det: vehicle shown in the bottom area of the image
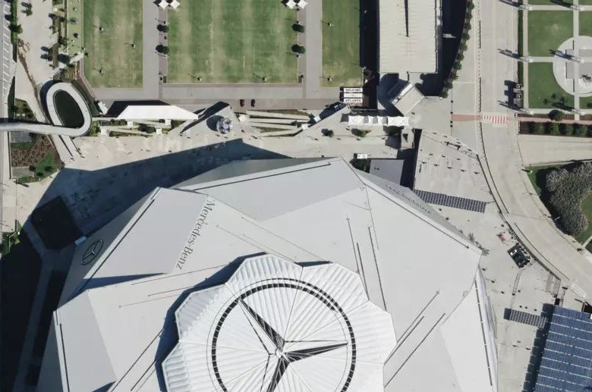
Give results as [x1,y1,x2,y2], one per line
[509,243,533,266]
